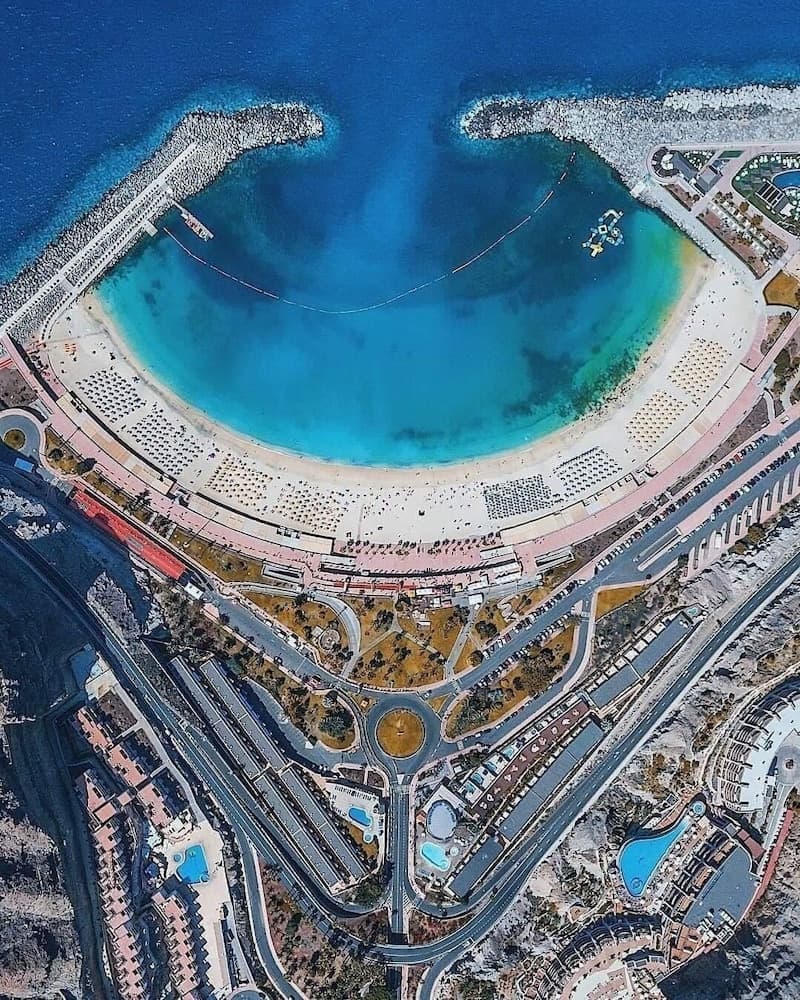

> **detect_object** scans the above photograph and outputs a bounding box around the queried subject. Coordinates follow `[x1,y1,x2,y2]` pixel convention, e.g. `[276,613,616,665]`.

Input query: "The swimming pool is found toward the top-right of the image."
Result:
[772,169,800,190]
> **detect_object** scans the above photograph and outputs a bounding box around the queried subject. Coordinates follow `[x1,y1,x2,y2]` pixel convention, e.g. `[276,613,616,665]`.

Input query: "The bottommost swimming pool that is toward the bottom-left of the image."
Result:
[172,844,209,884]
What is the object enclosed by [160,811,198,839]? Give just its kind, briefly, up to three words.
building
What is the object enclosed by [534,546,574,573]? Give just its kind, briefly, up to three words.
building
